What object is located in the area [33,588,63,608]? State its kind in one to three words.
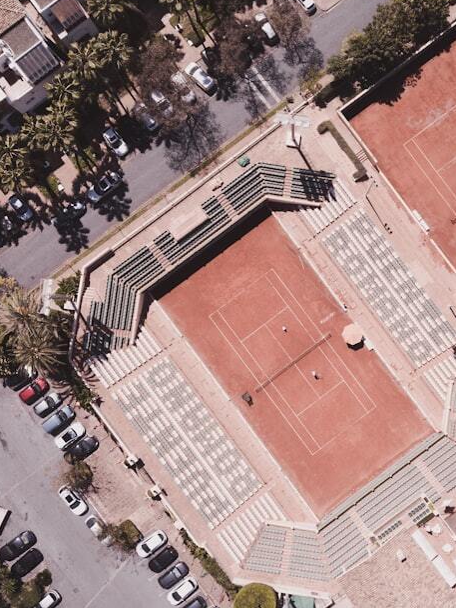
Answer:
car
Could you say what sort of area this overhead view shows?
sports ground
